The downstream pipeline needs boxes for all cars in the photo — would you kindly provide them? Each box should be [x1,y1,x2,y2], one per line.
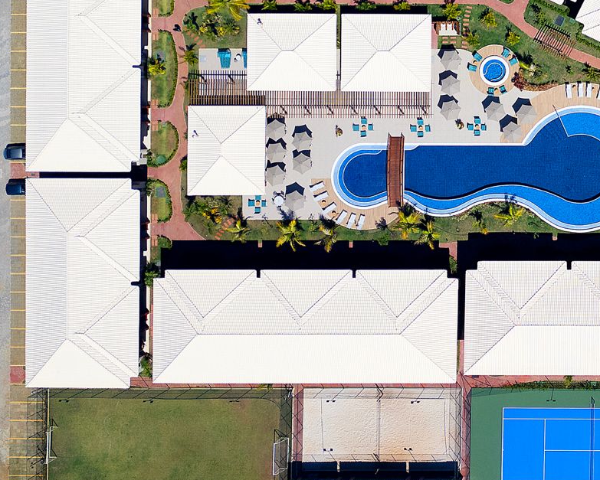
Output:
[2,142,28,159]
[5,180,26,194]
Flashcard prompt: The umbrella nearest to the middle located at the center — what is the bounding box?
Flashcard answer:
[287,190,307,212]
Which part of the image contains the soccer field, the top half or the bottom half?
bottom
